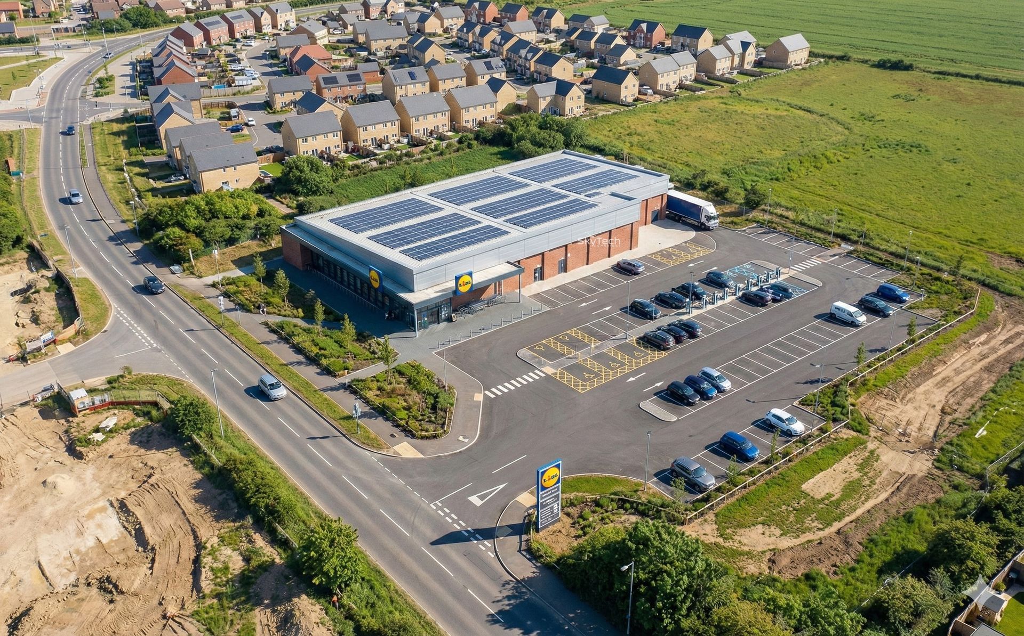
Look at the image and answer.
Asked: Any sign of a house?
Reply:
Yes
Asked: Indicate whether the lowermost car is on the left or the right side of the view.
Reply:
right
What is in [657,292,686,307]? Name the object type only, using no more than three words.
car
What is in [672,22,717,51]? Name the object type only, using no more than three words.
house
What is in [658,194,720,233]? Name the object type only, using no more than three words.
truck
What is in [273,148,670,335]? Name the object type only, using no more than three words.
building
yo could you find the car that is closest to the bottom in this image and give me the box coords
[670,454,715,487]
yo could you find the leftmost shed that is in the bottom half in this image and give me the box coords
[63,392,93,419]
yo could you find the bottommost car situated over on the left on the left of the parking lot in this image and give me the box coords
[258,371,285,397]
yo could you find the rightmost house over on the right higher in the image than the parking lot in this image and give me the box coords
[759,29,812,69]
